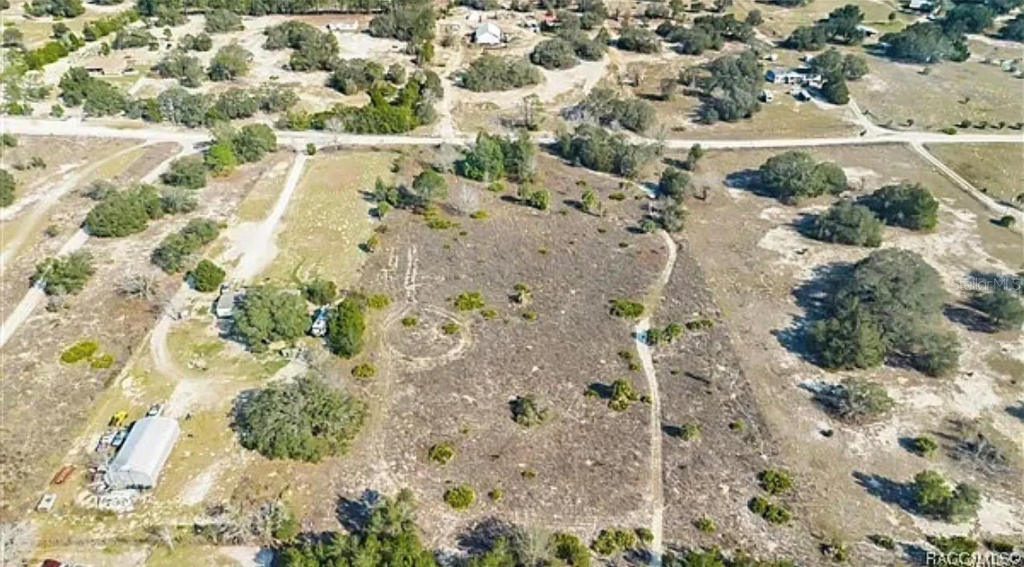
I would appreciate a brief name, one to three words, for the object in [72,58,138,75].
house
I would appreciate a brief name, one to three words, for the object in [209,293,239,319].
shed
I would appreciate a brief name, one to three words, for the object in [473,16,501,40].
building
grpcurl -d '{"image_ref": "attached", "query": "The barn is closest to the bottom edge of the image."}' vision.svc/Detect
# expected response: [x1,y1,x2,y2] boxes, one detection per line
[102,421,183,489]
